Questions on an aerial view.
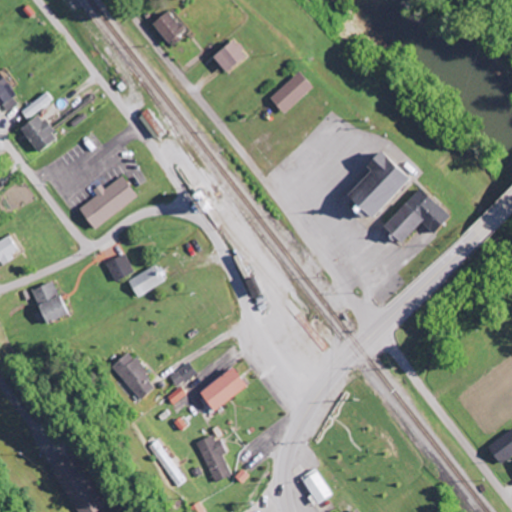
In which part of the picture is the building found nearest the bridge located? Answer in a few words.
right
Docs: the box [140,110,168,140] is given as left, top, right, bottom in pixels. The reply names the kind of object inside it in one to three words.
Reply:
shed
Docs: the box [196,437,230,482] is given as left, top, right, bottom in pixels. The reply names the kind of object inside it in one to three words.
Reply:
house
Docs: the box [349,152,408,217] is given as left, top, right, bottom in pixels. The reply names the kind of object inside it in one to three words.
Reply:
building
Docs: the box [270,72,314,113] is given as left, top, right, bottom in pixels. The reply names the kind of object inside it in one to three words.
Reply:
house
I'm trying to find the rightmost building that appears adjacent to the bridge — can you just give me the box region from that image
[384,189,449,243]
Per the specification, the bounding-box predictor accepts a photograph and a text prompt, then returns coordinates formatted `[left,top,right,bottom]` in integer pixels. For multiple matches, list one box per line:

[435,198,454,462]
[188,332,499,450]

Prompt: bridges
[460,186,512,251]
